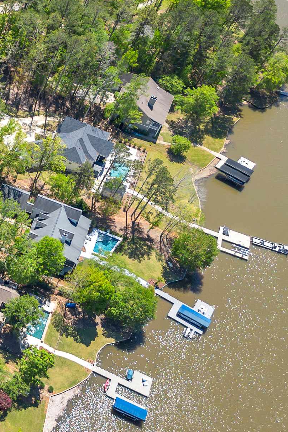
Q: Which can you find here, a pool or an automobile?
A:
pool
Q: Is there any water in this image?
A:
Yes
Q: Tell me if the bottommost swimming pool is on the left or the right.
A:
left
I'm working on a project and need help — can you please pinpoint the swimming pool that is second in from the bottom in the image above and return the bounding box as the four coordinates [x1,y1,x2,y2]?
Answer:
[80,227,123,260]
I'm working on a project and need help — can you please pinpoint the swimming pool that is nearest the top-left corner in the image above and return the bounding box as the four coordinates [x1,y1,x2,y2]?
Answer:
[112,146,141,190]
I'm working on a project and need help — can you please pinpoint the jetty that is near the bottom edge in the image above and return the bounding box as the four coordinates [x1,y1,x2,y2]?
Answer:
[93,366,153,426]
